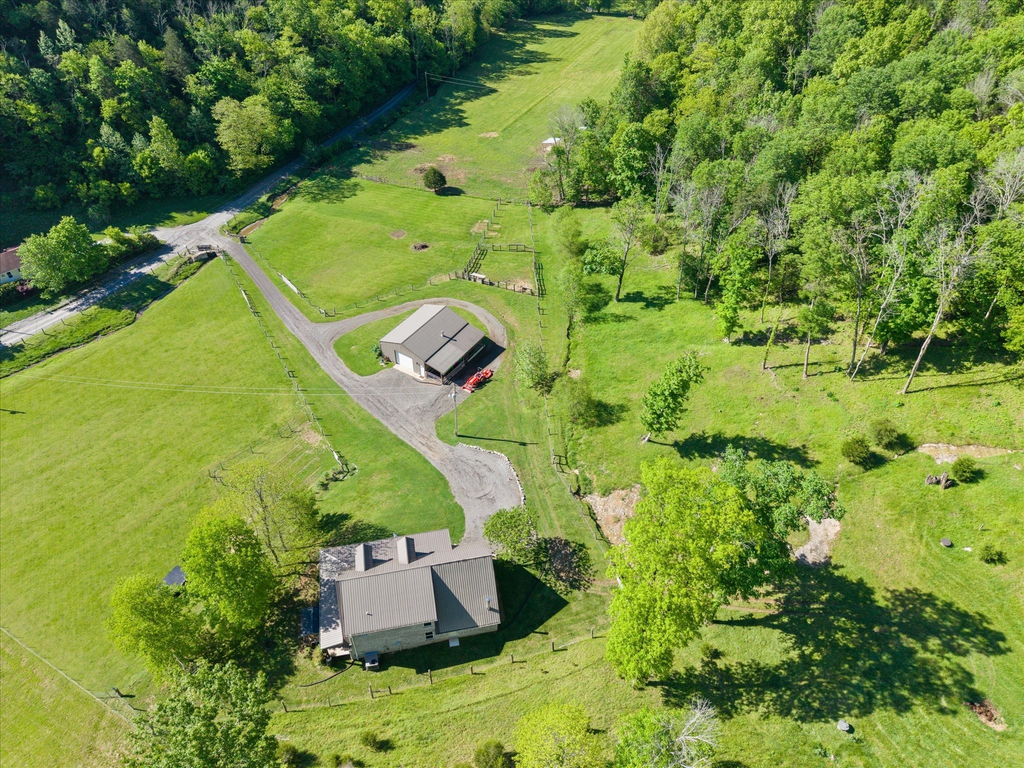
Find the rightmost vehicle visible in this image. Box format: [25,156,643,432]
[458,369,495,397]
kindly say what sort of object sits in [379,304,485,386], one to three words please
barn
